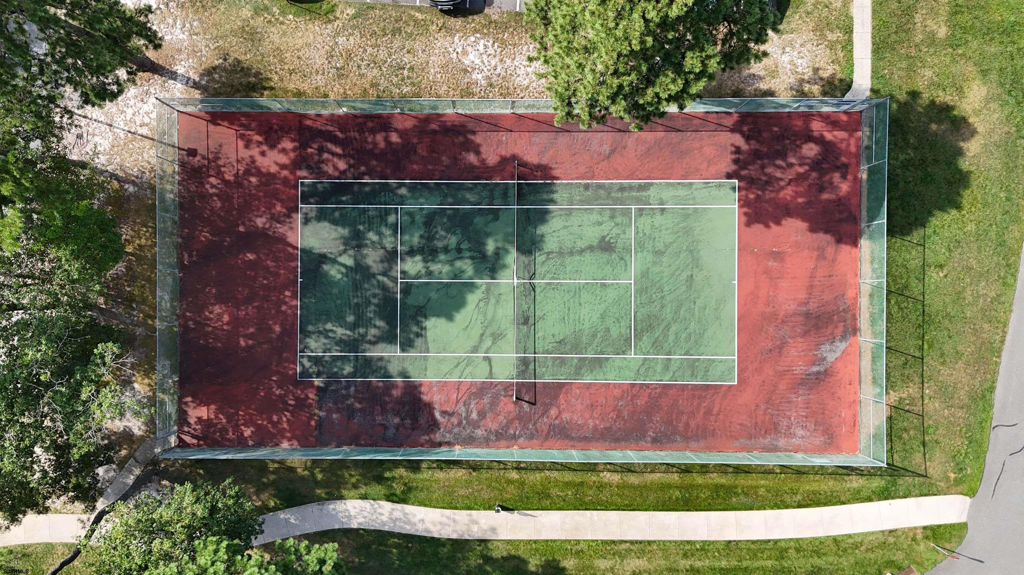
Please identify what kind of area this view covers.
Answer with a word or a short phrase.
sports ground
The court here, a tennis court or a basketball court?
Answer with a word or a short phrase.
tennis court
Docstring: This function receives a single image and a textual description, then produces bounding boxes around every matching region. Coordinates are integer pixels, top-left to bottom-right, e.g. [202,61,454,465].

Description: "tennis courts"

[177,111,861,454]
